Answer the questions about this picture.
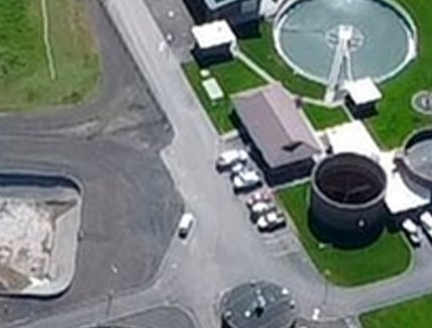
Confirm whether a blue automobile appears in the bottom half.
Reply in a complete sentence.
No, I see no blue automobile in the bottom half.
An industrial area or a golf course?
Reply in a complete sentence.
The picture captures an industrial area.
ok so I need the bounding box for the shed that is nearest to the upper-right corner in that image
[345,78,382,112]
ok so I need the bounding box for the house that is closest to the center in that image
[230,83,323,177]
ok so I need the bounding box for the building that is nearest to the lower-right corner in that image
[325,120,432,221]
